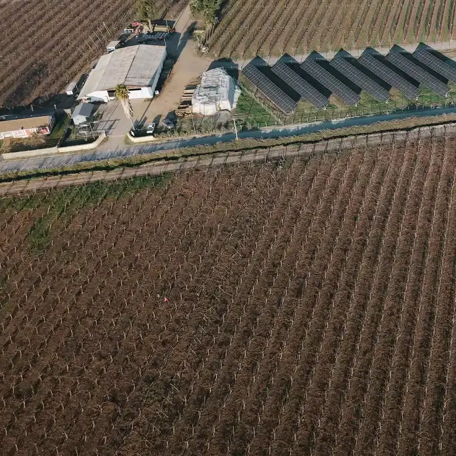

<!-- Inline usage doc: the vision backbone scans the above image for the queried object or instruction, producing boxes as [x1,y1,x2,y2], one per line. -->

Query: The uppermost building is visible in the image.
[67,39,166,104]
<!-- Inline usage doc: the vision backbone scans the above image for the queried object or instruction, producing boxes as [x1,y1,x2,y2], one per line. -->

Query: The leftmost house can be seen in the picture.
[0,110,56,139]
